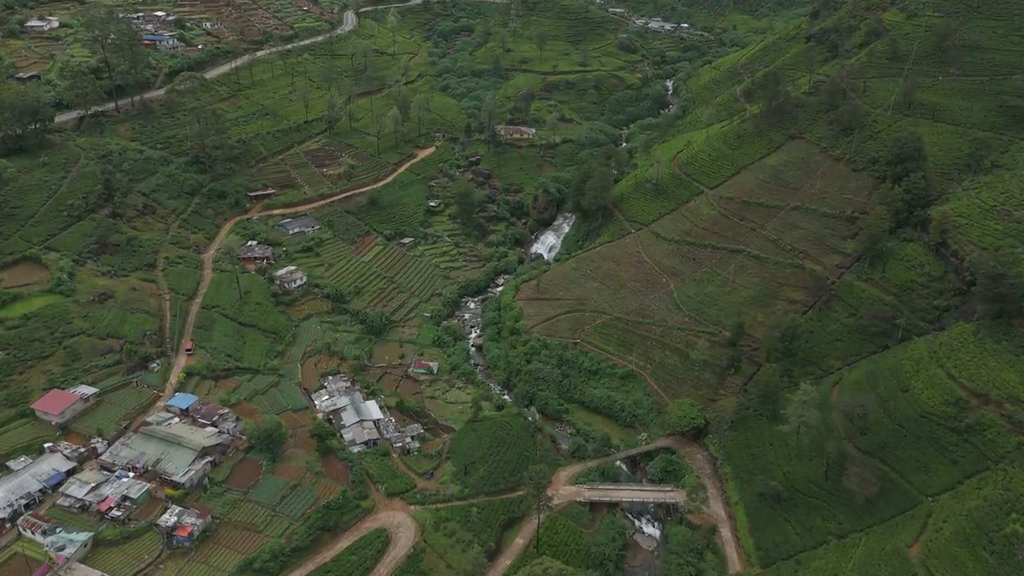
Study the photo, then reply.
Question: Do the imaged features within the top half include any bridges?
No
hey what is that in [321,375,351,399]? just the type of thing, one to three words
shed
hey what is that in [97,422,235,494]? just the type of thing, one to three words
building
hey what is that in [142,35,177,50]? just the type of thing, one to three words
house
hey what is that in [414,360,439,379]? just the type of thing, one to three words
shed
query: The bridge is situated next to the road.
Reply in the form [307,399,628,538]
[552,481,695,507]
